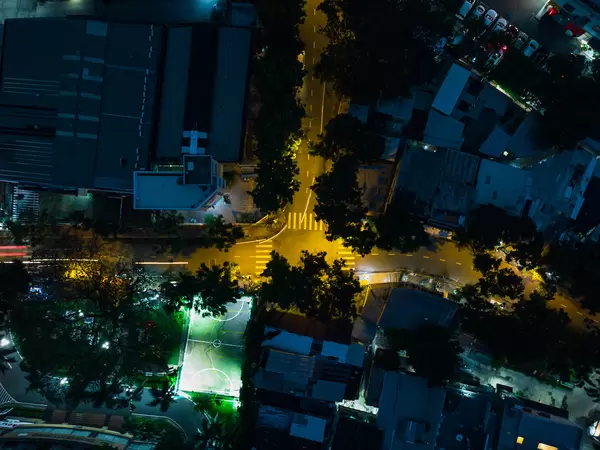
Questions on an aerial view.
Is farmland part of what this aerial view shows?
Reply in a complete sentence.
No, there is no farmland in the image.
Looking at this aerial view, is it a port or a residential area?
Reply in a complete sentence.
The area seen from above is a residential area.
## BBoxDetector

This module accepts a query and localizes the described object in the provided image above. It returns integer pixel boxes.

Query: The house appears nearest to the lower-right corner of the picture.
[502,394,583,450]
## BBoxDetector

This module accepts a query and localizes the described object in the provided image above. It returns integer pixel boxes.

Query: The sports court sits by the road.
[173,294,256,401]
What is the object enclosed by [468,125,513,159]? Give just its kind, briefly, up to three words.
house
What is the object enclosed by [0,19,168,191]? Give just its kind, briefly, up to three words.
building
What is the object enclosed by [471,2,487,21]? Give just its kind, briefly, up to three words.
car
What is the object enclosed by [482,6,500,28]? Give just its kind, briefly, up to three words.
car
